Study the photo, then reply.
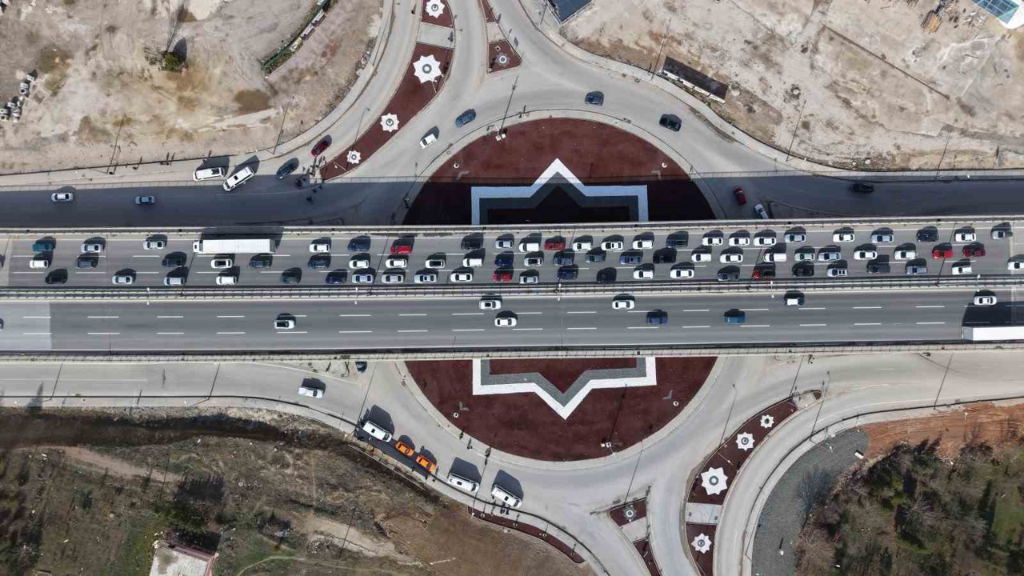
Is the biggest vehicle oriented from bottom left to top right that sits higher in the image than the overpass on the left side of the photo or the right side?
left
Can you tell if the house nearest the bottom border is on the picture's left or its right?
left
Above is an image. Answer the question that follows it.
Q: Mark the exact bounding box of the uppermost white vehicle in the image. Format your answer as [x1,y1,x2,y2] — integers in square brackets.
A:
[420,131,438,146]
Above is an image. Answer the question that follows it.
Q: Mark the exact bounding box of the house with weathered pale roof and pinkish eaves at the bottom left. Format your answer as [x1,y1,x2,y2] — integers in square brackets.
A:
[152,546,221,576]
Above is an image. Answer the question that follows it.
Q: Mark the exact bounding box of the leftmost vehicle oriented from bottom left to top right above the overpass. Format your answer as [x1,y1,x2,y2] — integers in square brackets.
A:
[225,165,257,192]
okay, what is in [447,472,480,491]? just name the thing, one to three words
vehicle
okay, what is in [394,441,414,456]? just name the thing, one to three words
car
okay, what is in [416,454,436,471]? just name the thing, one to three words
car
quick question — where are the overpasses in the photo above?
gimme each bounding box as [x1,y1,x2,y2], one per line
[0,215,1024,363]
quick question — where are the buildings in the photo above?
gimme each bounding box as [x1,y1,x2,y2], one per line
[544,0,598,26]
[152,546,221,576]
[969,0,1024,31]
